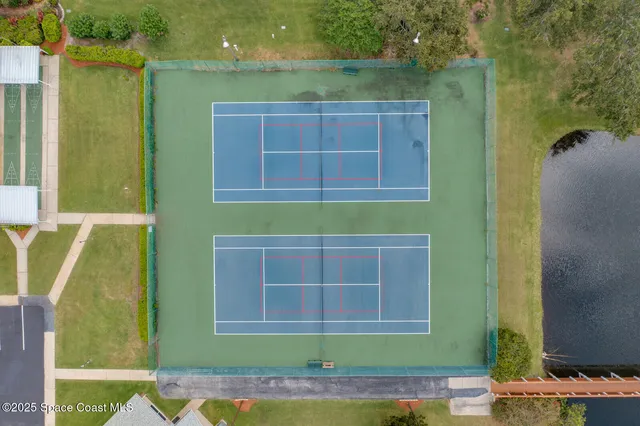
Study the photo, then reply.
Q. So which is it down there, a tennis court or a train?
tennis court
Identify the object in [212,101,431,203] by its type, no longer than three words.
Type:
tennis court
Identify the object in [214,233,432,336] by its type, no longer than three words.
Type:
tennis court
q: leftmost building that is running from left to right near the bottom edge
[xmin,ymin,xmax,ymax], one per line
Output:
[103,392,174,426]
